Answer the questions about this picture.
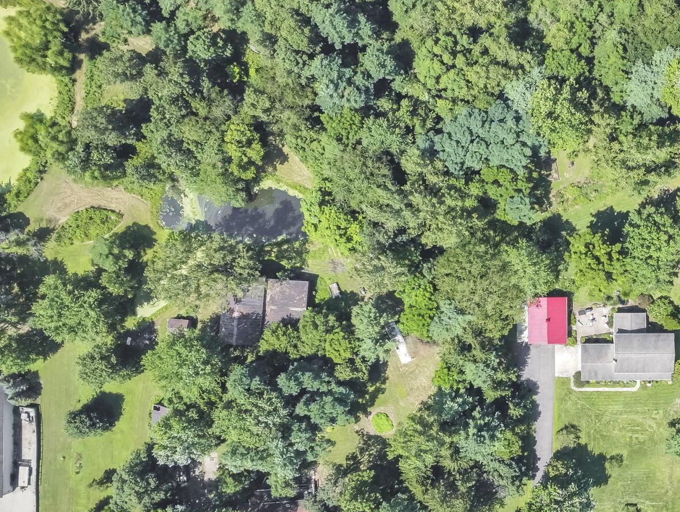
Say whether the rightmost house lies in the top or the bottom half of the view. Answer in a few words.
bottom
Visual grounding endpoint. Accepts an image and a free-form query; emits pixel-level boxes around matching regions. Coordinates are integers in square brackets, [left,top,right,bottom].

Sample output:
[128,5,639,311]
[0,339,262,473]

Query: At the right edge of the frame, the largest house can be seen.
[581,313,675,387]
